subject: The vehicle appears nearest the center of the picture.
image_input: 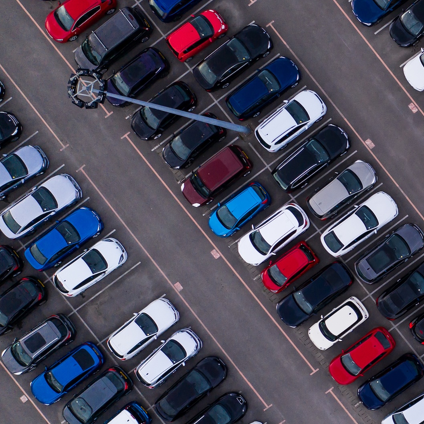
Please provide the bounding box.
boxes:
[206,179,275,238]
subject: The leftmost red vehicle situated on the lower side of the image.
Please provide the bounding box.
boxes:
[260,239,320,292]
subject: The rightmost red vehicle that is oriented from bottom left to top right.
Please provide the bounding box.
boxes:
[327,326,397,386]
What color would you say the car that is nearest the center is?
blue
